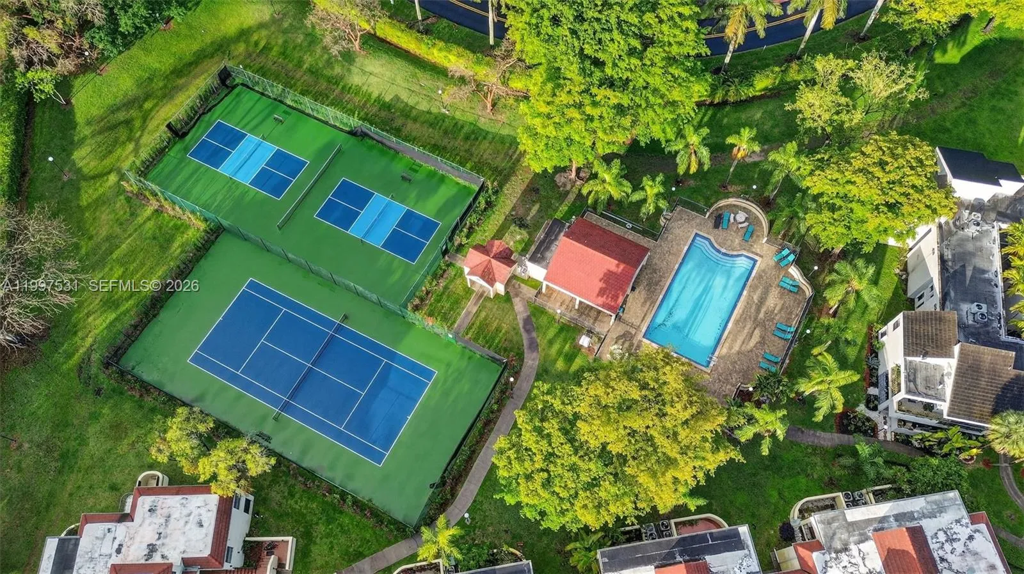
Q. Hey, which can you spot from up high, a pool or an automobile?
pool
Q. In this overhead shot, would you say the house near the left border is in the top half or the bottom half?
bottom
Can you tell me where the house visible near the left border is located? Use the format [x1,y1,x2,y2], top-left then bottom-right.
[36,486,248,574]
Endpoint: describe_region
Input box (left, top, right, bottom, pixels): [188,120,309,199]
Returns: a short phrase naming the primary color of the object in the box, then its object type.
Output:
blue sports court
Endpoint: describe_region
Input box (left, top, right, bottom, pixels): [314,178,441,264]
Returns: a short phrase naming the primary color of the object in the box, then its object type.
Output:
blue sports court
